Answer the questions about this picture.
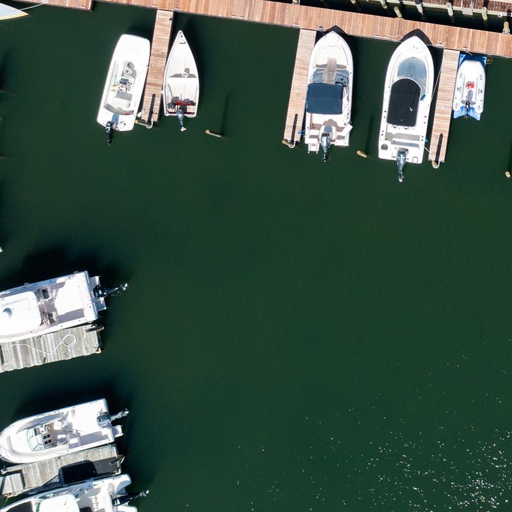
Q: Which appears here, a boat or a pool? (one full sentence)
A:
The image shows a boat.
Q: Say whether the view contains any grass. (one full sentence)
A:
No, the picture contains no grass.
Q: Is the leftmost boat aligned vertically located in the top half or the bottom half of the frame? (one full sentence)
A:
Seen from above, the leftmost boat aligned vertically lies in the top half of the view.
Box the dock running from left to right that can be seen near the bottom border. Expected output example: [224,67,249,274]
[6,445,121,497]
